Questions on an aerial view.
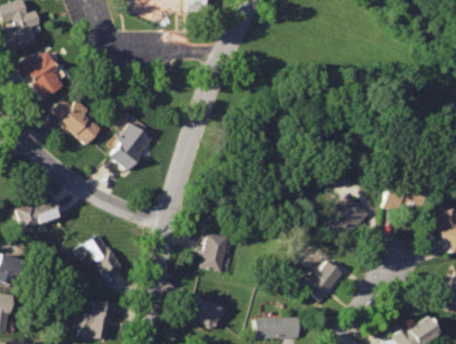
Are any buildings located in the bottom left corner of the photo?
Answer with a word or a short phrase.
Yes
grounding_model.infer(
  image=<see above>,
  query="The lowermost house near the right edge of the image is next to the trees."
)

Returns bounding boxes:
[390,315,444,344]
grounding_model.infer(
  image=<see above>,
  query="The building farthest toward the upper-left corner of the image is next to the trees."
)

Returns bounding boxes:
[0,0,41,49]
